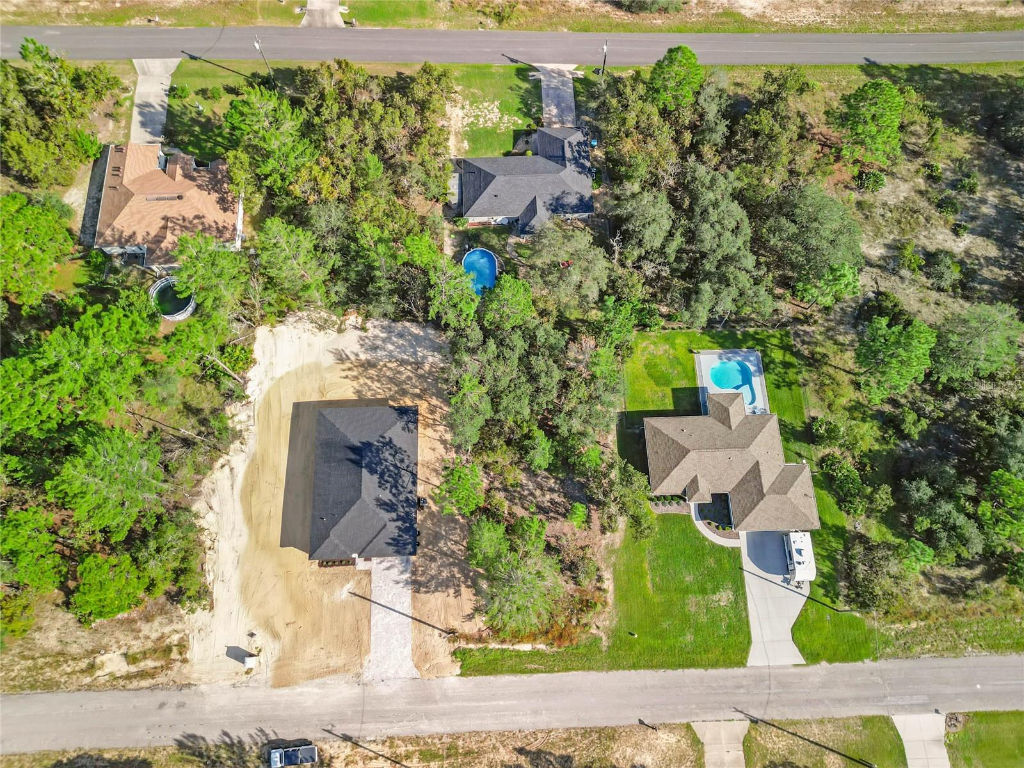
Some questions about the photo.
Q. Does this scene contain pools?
Yes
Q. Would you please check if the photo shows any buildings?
Yes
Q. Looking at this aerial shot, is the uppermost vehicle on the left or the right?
right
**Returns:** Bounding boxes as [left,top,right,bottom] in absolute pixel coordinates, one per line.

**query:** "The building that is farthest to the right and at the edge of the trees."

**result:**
[644,393,817,531]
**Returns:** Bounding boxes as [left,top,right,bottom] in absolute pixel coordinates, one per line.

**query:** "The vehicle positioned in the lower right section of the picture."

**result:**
[782,533,814,591]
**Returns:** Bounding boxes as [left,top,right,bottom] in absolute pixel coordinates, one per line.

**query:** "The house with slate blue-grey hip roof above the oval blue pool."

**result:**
[462,127,594,240]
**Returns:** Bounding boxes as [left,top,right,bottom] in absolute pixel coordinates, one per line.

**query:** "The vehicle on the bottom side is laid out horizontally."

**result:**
[267,745,318,768]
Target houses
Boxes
[644,393,817,531]
[310,406,418,560]
[462,127,594,240]
[95,137,242,270]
